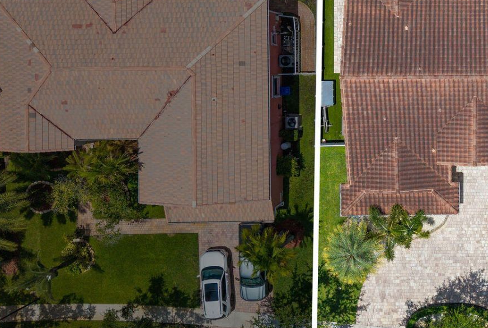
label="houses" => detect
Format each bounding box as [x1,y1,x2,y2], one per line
[0,0,287,225]
[339,0,488,218]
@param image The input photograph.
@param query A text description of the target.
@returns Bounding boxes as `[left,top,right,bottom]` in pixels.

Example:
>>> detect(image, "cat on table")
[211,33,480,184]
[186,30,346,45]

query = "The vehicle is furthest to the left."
[199,245,238,319]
